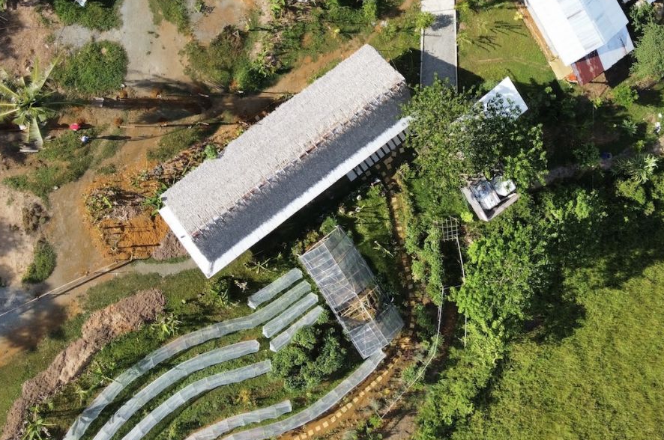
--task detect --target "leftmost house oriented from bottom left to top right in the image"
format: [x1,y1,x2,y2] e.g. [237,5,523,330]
[157,43,411,277]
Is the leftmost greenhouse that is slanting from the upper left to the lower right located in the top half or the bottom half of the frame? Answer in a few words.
bottom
